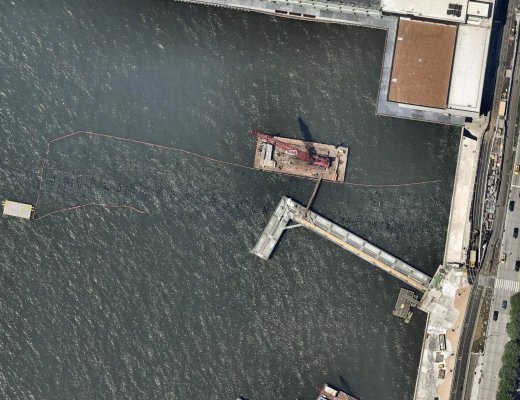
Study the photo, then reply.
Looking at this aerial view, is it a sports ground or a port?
port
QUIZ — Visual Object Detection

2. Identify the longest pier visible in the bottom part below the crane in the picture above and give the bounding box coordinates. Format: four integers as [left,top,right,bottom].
[254,196,432,292]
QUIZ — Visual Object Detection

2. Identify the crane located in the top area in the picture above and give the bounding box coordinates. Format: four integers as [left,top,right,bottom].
[250,129,335,170]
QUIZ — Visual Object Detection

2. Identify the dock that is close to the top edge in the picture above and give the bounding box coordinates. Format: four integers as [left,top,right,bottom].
[169,0,481,127]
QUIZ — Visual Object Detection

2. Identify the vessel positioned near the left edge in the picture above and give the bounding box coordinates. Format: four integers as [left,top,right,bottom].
[2,200,35,219]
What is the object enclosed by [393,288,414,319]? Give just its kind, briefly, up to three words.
pier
